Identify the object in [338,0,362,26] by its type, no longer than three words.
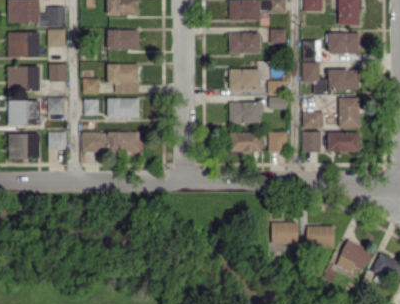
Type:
house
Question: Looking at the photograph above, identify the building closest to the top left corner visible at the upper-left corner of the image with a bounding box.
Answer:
[8,0,39,24]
